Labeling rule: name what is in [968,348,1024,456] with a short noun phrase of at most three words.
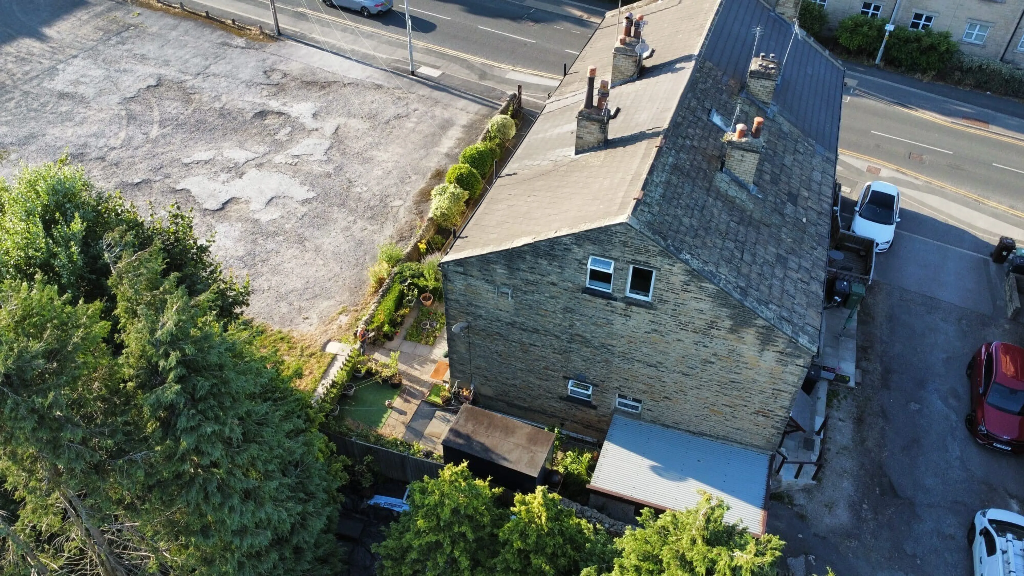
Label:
car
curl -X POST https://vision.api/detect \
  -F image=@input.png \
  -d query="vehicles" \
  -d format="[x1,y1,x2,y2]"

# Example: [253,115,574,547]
[968,507,1024,576]
[852,183,908,256]
[968,348,1024,456]
[322,0,397,18]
